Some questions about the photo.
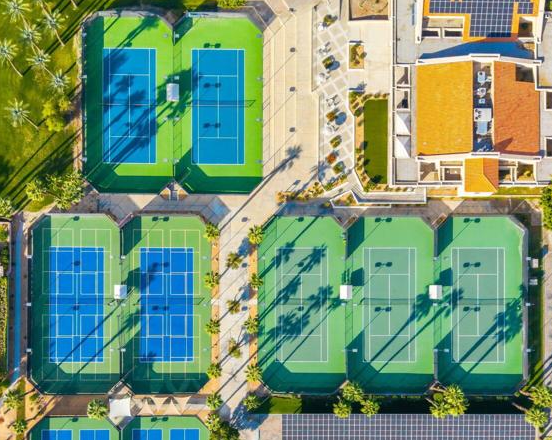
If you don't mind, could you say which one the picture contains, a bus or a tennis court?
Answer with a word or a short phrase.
tennis court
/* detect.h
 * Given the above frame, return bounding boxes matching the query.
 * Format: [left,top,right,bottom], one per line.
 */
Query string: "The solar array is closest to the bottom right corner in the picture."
[282,414,536,440]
